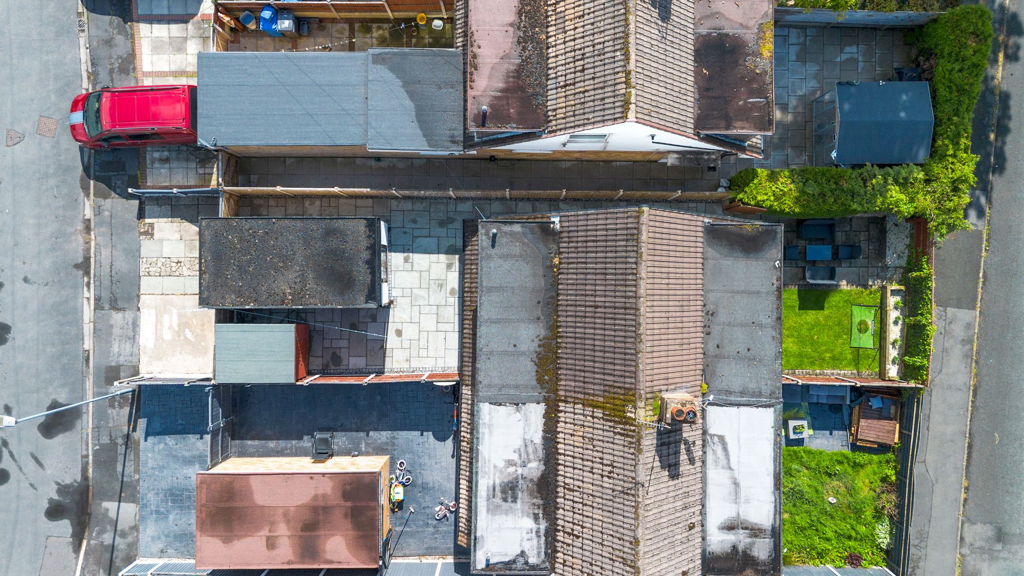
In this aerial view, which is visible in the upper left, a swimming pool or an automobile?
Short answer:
automobile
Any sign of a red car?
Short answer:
Yes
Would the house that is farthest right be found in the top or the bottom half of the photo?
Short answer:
top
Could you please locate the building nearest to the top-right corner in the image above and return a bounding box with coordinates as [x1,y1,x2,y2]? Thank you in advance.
[813,80,938,170]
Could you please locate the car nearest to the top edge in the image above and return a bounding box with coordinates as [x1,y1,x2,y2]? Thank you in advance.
[64,80,201,151]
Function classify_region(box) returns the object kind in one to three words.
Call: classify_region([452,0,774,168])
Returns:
house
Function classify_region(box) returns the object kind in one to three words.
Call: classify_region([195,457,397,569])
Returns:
building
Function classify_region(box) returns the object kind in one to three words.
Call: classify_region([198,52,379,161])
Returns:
building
